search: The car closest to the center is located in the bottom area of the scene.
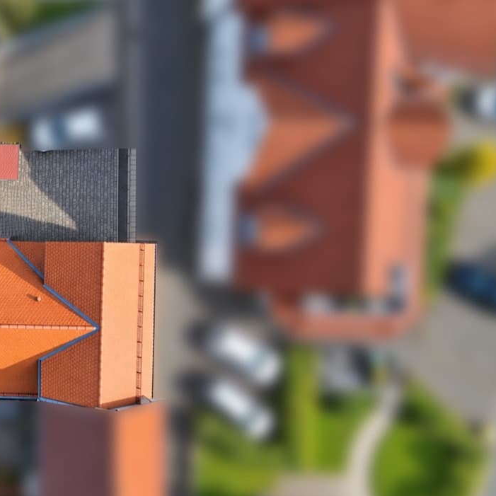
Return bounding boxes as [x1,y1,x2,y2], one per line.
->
[204,319,282,387]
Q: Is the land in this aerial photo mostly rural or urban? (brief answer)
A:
urban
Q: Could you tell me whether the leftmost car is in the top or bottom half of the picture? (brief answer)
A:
top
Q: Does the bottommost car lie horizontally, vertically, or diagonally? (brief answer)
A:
diagonally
